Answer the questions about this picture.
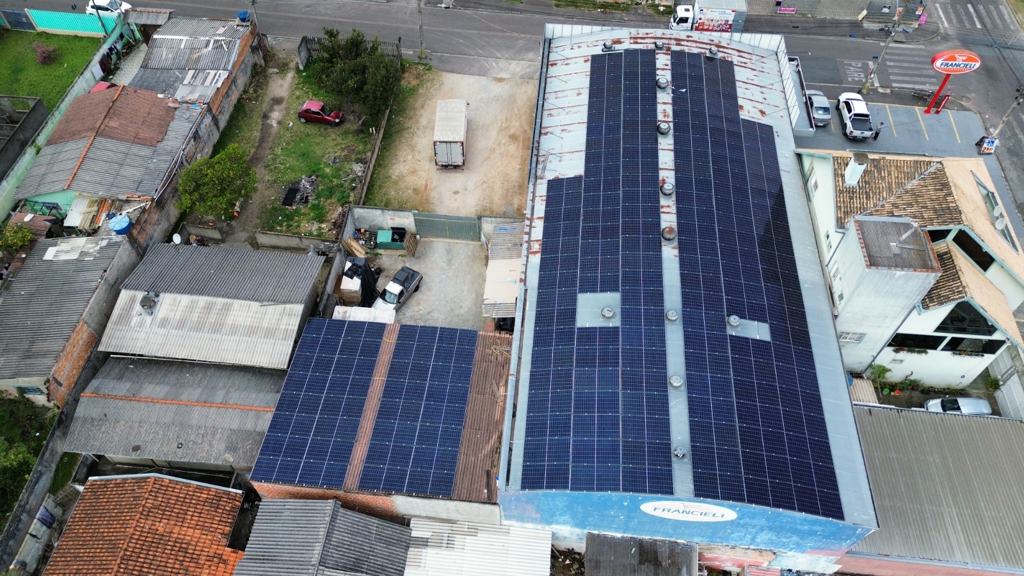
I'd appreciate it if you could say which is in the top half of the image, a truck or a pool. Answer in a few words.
truck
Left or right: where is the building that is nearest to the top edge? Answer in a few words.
left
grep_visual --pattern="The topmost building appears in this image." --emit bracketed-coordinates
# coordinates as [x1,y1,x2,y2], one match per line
[128,17,249,123]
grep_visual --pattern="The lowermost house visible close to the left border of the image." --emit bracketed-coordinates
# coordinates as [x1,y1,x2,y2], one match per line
[44,470,255,576]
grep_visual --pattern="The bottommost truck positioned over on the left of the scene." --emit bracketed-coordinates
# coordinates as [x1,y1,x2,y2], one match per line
[372,263,427,319]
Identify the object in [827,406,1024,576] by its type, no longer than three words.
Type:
warehouse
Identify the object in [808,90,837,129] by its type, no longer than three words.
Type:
car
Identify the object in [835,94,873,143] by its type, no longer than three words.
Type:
truck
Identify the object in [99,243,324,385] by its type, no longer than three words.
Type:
house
